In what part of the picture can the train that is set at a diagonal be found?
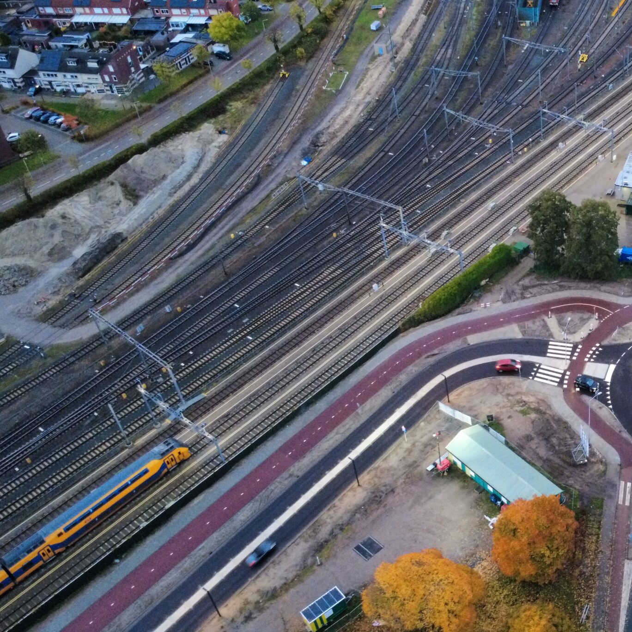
bottom left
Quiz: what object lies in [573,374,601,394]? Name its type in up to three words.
car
